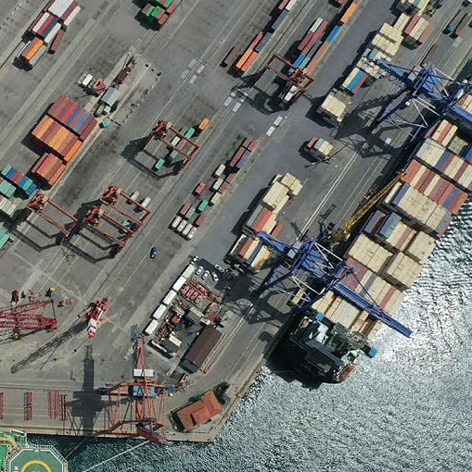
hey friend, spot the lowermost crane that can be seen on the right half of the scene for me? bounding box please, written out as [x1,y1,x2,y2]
[240,224,410,347]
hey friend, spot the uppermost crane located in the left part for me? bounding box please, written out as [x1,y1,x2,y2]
[137,115,203,178]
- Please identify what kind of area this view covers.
port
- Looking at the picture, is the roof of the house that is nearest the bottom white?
No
